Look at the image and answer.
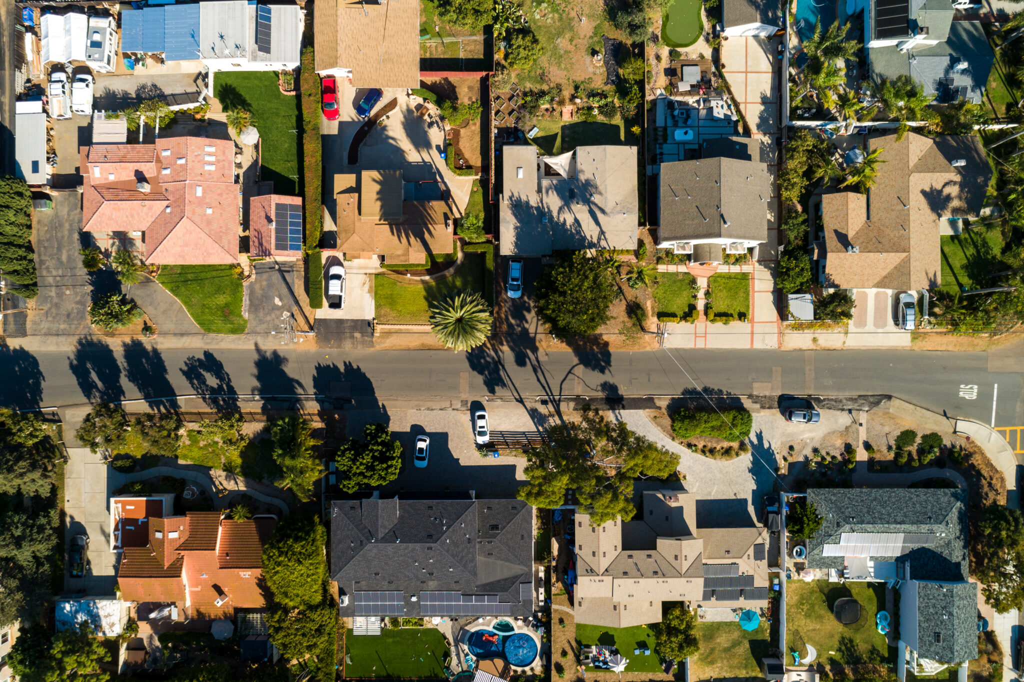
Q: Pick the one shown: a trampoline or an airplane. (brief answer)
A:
trampoline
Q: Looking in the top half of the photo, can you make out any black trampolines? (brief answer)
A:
No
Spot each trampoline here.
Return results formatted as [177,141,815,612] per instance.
[832,594,869,629]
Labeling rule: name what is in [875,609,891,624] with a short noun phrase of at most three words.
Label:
swimming pool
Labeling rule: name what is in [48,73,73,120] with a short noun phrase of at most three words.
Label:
truck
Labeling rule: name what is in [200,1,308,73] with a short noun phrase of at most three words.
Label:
house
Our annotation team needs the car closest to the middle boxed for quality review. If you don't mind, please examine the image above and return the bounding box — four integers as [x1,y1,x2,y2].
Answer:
[506,260,524,298]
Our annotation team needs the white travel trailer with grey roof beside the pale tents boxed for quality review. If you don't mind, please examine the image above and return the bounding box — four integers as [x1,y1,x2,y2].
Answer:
[89,15,121,85]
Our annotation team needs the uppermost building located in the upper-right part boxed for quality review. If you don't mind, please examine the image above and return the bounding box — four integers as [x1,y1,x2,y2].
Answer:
[719,0,781,35]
